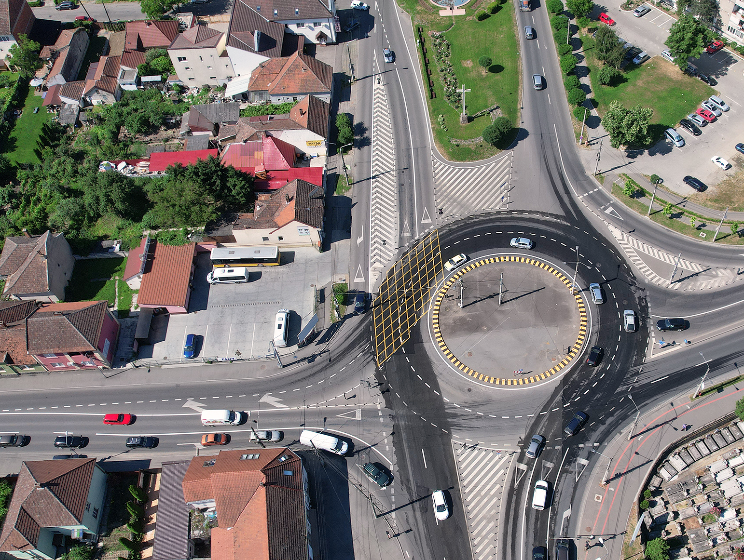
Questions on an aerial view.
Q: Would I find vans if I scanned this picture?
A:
Yes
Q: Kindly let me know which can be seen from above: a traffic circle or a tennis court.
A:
traffic circle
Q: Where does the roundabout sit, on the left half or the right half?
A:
right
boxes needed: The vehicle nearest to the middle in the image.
[354,290,368,316]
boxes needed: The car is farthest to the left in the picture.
[0,434,27,449]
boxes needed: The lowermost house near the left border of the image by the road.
[0,459,107,558]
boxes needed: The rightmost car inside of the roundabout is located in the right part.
[624,309,637,334]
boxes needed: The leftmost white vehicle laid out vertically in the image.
[272,307,290,348]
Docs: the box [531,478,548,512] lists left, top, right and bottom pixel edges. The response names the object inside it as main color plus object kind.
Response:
white car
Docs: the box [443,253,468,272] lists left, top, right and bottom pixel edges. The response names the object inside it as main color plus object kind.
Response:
white car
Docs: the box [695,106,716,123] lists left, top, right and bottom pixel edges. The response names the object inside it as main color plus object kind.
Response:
red car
